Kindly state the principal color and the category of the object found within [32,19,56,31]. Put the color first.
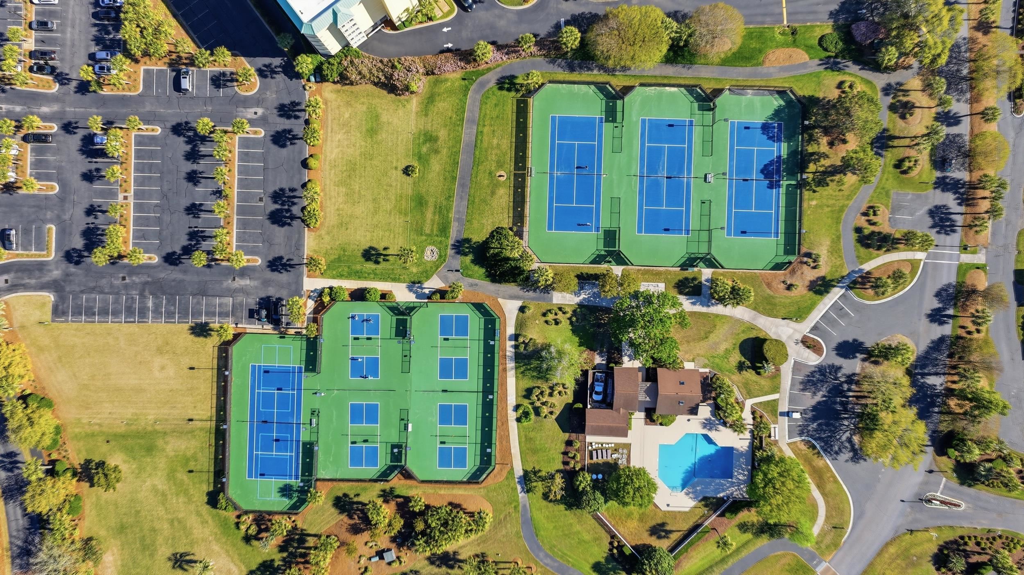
gray vehicle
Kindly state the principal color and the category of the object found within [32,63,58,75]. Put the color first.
black vehicle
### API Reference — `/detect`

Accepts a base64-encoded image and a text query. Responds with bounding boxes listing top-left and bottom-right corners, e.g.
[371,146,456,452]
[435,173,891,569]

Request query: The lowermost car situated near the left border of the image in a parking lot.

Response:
[2,228,16,251]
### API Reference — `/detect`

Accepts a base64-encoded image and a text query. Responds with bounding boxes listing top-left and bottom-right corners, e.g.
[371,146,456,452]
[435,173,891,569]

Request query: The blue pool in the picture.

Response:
[657,432,735,497]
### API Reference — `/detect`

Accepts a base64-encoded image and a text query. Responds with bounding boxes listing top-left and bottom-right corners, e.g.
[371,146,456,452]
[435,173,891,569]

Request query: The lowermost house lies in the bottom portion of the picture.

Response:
[585,407,629,437]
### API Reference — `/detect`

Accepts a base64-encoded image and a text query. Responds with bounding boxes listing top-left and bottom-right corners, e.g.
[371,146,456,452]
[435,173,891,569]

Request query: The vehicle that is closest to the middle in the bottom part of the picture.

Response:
[592,372,605,401]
